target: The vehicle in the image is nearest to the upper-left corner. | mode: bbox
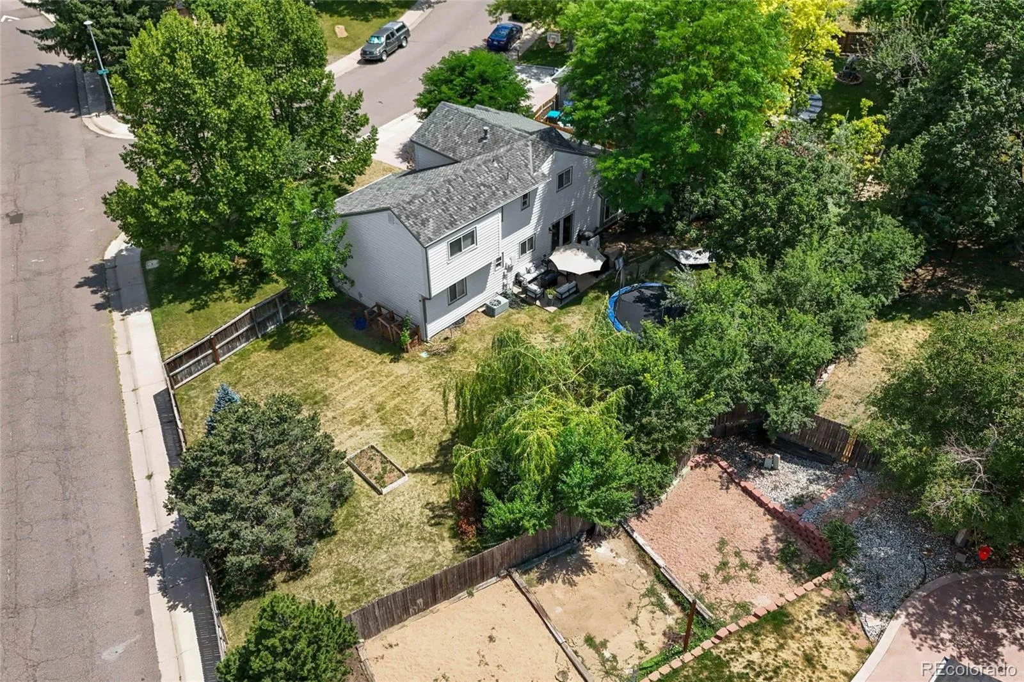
[356,21,408,60]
